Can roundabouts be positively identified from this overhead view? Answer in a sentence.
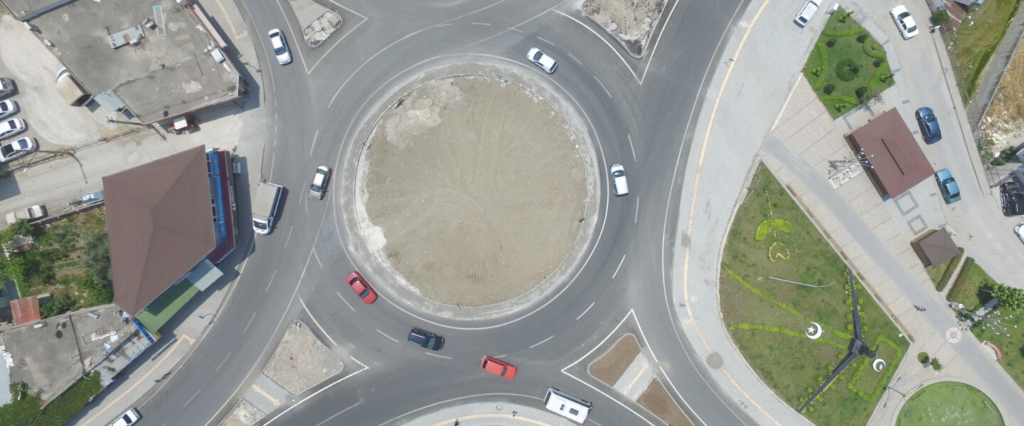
Yes, the picture does show a roundabout.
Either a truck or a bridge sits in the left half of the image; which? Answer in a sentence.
You can see a truck in the left half of the image.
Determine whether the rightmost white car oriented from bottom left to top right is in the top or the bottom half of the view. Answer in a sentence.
The rightmost white car oriented from bottom left to top right is in the top half of the image.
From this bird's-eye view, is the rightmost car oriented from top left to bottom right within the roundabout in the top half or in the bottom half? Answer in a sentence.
Seen from above, the rightmost car oriented from top left to bottom right within the roundabout lies in the top half of the view.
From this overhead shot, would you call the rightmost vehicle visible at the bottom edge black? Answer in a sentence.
No, the rightmost vehicle visible at the bottom edge is actually white.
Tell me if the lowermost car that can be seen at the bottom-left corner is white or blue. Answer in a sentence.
The color of the lowermost car that can be seen at the bottom-left corner is white.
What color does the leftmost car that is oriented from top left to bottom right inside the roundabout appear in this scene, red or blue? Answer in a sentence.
From above, the leftmost car that is oriented from top left to bottom right inside the roundabout appears red.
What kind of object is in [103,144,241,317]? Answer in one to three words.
building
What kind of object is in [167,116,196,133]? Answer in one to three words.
work vehicle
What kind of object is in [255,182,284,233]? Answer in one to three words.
truck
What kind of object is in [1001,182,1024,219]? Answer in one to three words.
car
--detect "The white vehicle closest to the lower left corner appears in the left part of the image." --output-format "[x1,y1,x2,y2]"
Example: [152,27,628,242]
[106,406,141,426]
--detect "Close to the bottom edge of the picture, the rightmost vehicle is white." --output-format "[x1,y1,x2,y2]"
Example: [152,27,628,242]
[545,388,592,424]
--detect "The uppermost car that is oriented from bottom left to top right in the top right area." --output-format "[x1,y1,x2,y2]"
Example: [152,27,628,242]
[793,0,824,28]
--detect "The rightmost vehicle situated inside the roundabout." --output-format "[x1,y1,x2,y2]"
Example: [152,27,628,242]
[610,163,629,197]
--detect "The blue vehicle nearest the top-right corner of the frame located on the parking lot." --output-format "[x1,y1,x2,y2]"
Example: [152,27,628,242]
[916,107,941,144]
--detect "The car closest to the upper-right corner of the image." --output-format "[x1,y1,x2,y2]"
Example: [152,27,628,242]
[890,4,918,40]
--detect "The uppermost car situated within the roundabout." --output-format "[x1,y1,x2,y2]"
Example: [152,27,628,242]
[526,47,560,75]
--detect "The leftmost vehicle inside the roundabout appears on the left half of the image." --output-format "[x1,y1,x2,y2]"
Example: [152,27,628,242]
[310,164,332,201]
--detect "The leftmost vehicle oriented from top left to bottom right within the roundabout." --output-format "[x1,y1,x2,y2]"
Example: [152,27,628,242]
[345,271,379,305]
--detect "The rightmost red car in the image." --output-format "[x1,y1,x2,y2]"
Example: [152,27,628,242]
[479,355,518,379]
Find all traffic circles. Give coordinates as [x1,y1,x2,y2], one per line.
[285,5,658,378]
